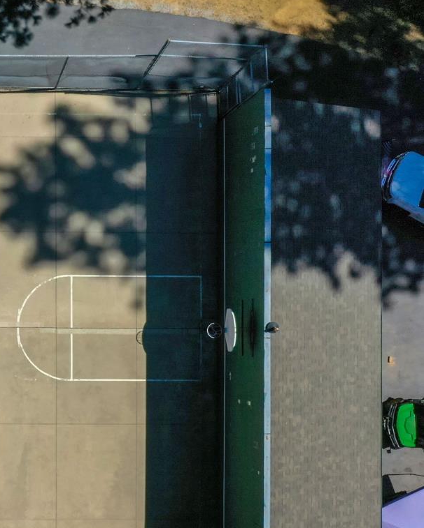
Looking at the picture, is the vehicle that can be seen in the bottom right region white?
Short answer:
No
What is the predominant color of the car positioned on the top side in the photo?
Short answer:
blue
